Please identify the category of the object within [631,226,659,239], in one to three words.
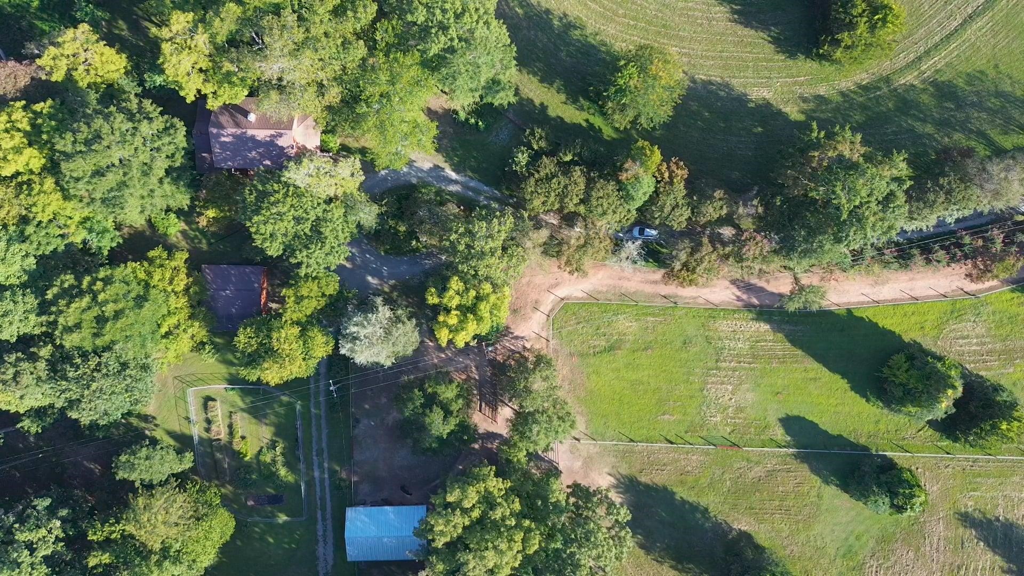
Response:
vehicle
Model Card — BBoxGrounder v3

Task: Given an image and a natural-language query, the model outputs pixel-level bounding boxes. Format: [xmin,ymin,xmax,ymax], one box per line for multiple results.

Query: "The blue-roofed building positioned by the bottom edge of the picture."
[343,501,428,562]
